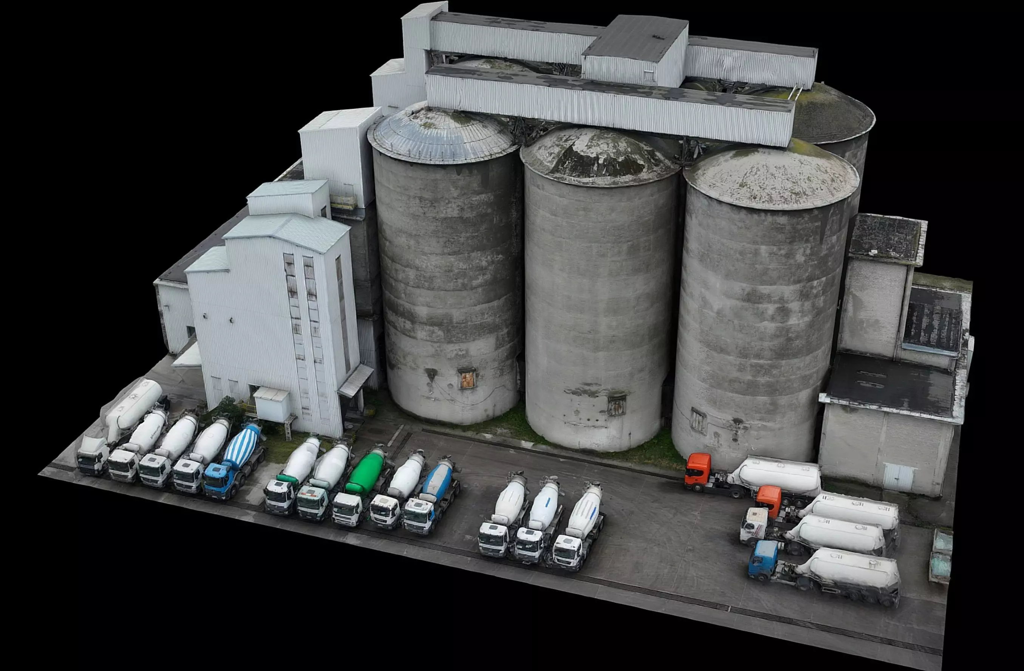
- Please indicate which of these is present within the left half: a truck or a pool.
truck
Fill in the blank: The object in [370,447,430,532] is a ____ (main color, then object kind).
white truck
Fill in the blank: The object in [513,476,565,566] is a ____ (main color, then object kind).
white truck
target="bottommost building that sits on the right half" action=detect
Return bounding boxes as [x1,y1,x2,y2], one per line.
[816,350,970,498]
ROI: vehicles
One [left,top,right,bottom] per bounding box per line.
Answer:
[684,446,823,509]
[332,444,391,528]
[404,450,460,535]
[203,421,268,502]
[370,447,430,532]
[513,476,565,566]
[140,411,204,491]
[72,382,170,483]
[737,505,887,557]
[263,434,326,517]
[477,471,531,559]
[296,440,356,524]
[744,537,900,606]
[752,480,897,549]
[173,416,235,497]
[552,484,605,574]
[108,406,172,486]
